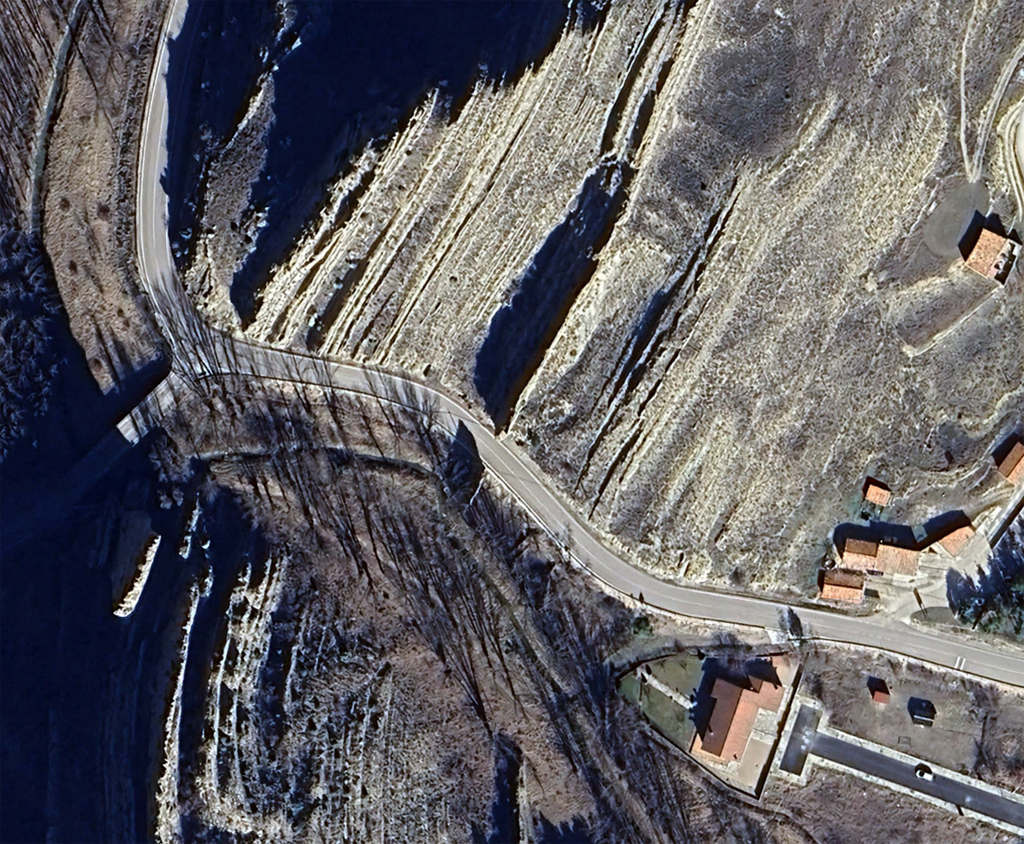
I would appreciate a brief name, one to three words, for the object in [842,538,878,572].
house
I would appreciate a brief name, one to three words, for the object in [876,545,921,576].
building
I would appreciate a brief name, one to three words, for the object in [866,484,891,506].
shed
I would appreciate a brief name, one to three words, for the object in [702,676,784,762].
house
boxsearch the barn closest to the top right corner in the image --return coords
[966,228,1024,285]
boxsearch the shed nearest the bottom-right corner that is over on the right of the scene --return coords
[912,703,937,727]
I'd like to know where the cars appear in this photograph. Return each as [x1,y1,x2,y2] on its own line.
[915,771,934,783]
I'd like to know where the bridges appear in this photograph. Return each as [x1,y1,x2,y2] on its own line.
[99,361,195,465]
